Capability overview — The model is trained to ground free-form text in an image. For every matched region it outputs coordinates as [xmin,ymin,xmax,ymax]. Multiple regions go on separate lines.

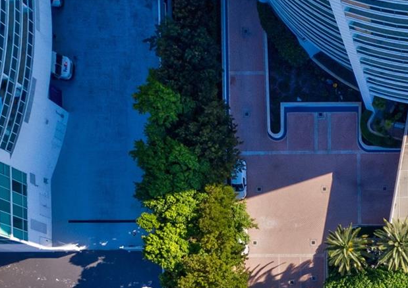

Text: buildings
[0,0,67,249]
[264,0,408,109]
